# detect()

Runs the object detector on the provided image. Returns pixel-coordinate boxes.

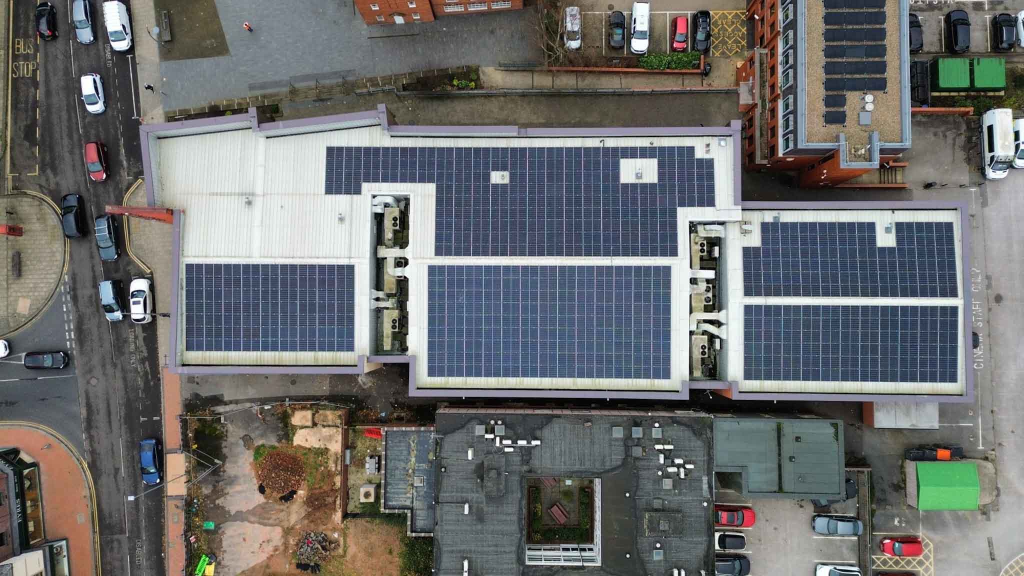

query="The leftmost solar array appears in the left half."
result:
[186,264,355,352]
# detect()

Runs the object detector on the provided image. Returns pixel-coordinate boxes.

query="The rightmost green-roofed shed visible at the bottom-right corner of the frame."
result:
[908,460,979,510]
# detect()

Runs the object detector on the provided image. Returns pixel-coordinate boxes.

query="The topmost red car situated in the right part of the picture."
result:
[671,16,690,53]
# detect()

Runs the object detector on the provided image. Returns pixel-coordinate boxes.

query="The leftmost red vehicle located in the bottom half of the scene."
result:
[715,506,756,527]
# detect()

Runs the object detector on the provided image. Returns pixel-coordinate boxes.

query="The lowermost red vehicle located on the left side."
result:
[85,143,111,180]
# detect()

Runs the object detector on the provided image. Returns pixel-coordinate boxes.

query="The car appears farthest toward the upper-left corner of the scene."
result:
[35,4,59,40]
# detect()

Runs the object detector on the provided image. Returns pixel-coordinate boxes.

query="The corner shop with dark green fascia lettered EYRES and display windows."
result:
[0,448,44,558]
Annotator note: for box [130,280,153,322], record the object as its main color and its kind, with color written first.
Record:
white car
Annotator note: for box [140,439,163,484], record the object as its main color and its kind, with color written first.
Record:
blue car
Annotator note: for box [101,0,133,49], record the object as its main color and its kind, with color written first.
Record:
white van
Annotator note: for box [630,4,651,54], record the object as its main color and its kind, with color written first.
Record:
white car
